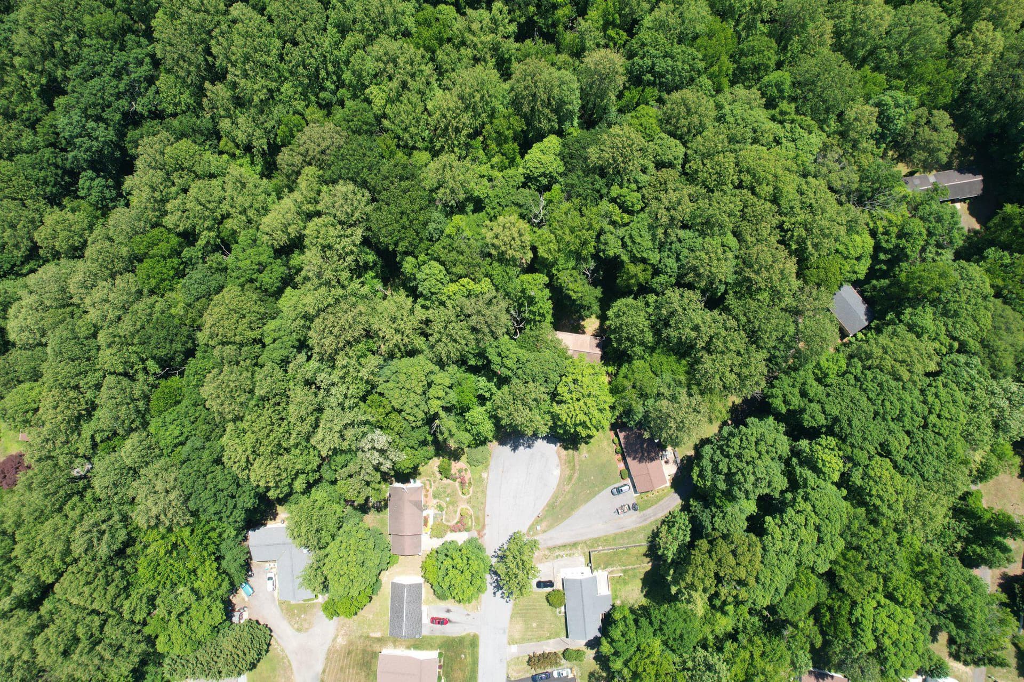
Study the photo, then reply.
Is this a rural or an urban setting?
rural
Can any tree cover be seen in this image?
Yes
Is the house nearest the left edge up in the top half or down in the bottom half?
bottom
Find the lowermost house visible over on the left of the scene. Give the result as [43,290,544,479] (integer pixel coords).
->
[378,649,439,682]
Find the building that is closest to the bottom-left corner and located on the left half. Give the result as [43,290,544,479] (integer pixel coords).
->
[248,525,318,603]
